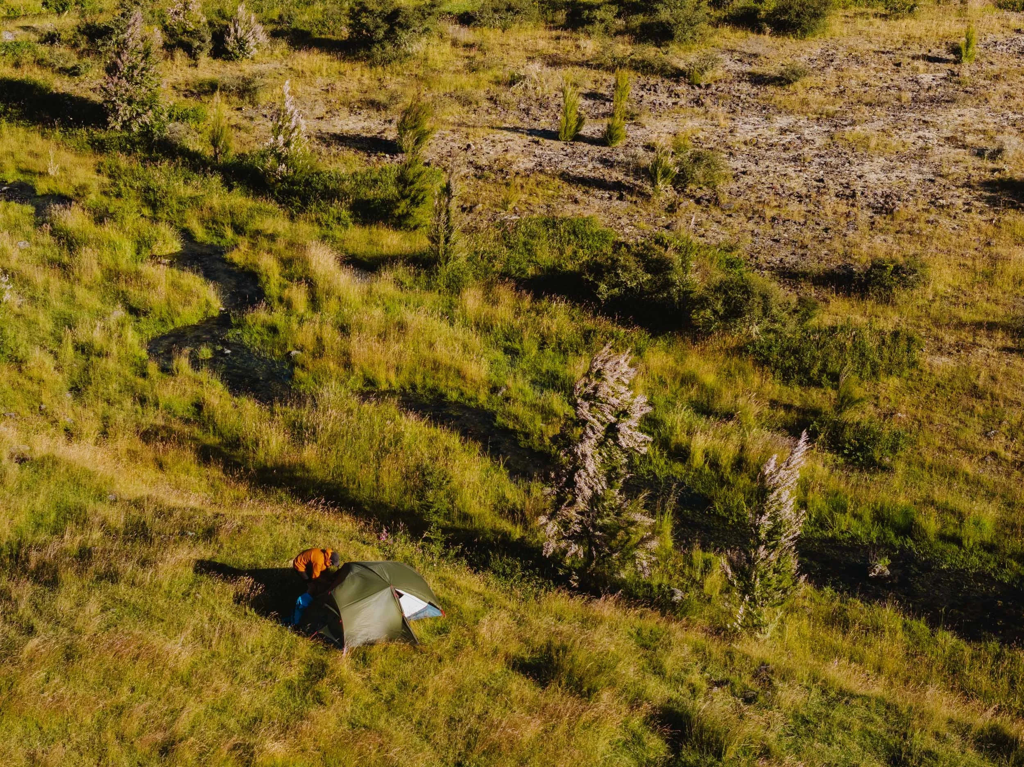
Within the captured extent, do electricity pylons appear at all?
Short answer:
No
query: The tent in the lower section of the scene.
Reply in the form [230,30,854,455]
[310,561,454,660]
